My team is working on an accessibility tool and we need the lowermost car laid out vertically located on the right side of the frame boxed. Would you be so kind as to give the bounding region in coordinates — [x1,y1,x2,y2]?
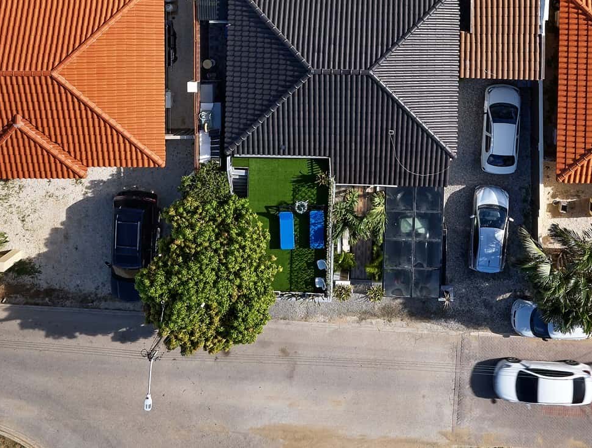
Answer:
[468,181,514,275]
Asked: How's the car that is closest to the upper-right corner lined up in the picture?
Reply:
vertically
